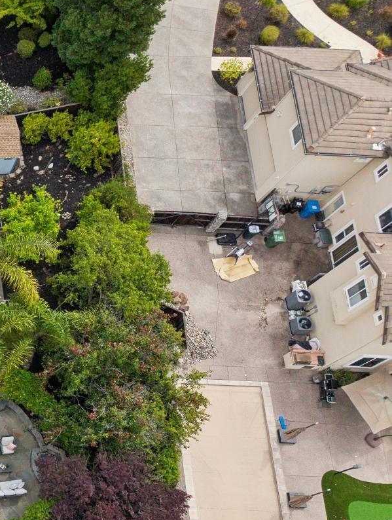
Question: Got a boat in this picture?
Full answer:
No, I can see no boat in this picture.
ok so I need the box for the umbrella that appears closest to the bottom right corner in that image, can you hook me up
[285,491,326,507]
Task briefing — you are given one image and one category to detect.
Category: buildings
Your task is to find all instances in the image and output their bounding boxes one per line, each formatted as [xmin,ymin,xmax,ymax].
[235,45,392,371]
[0,116,26,178]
